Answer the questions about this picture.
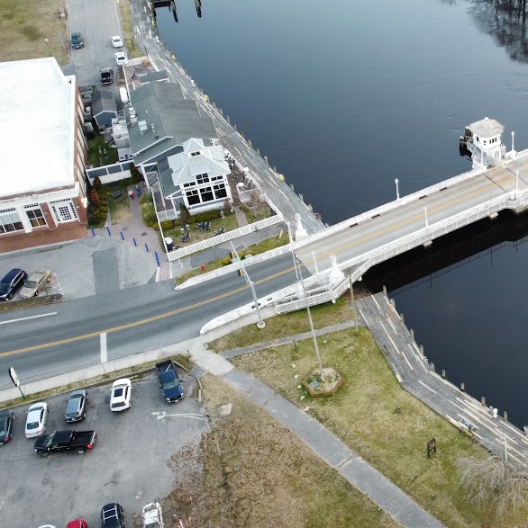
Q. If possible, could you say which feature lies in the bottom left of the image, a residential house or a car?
car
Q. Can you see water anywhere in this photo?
Yes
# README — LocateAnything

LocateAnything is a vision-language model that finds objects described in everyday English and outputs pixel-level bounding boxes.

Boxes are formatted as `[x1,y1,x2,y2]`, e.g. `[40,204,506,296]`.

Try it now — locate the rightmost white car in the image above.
[140,498,163,528]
